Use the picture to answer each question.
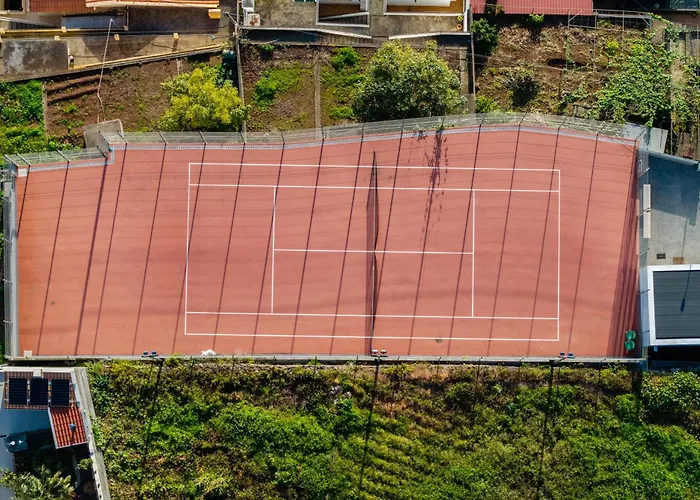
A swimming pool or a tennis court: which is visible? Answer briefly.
tennis court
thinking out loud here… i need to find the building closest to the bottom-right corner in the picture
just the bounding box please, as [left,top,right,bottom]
[645,264,700,352]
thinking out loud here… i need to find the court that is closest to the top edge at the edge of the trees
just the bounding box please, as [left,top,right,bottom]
[12,126,639,358]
